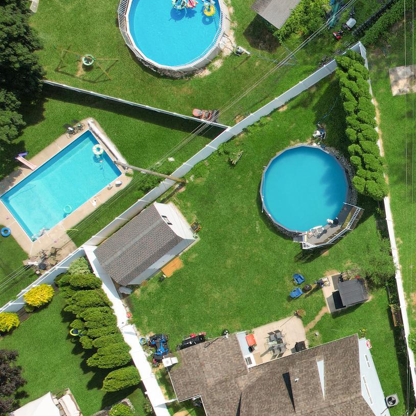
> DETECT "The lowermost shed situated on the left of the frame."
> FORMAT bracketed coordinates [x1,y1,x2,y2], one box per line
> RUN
[94,203,196,287]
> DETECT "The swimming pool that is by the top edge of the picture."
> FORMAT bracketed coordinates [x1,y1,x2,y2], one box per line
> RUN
[125,0,232,74]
